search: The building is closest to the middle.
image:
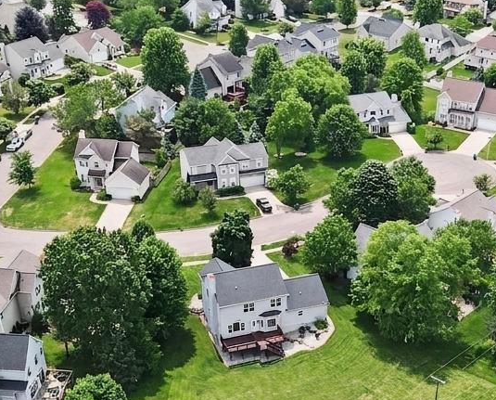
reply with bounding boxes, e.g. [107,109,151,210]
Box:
[182,129,271,197]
